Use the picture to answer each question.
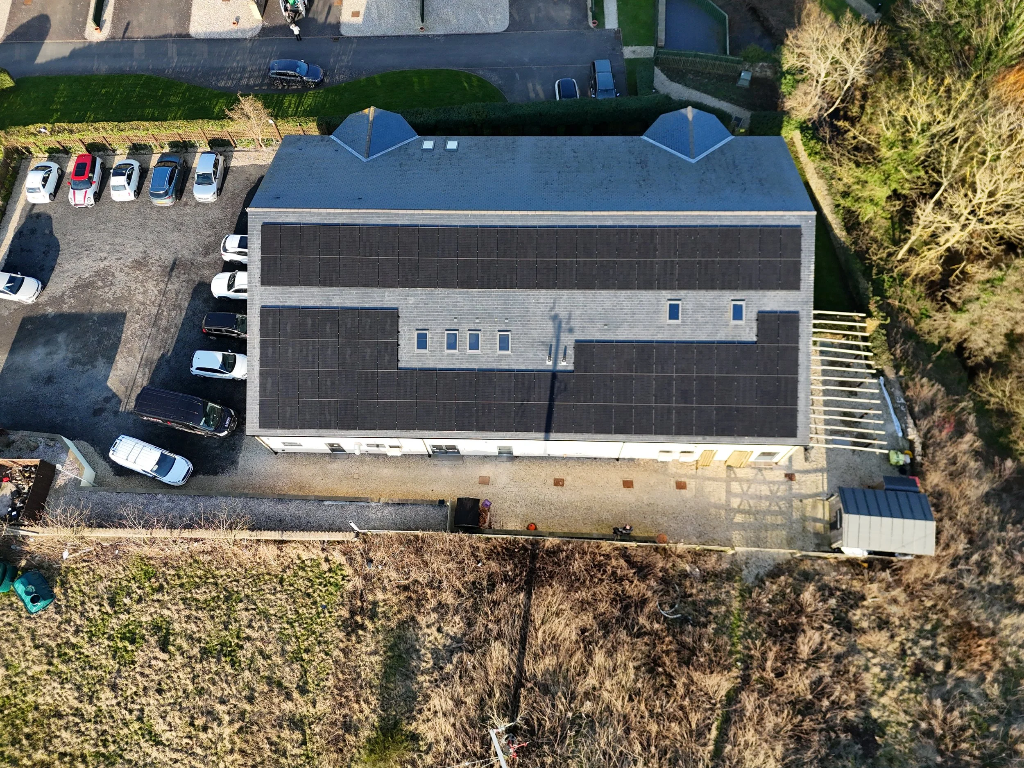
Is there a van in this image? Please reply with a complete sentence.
Yes, a van appears in the view.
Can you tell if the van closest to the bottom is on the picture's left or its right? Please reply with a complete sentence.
The van closest to the bottom is on the left side of the image.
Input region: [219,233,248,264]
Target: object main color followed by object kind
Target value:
white car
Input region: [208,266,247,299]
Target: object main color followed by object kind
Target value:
white car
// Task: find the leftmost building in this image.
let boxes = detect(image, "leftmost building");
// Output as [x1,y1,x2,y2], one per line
[0,457,61,522]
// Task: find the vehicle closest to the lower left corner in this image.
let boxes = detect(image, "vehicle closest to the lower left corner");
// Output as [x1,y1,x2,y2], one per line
[102,434,198,492]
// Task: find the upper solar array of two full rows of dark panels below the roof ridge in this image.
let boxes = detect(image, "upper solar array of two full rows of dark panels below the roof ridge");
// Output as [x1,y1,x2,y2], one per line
[259,225,803,289]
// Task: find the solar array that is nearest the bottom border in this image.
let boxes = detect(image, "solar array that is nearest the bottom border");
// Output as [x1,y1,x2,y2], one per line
[258,309,801,436]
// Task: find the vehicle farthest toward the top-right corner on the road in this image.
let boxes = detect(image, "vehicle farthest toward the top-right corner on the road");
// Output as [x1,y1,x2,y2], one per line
[589,65,617,96]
